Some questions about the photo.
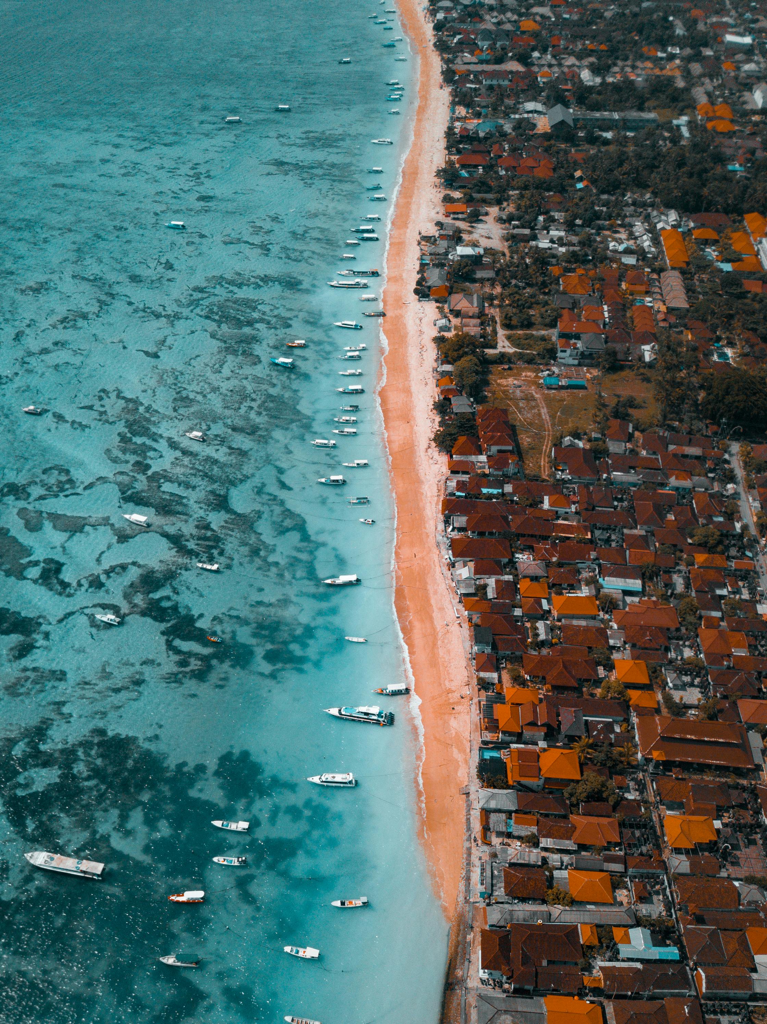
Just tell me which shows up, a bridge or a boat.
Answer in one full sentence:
There is a boat in the scene.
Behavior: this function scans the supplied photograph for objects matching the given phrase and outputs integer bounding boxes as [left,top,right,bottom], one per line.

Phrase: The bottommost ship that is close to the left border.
[20,844,108,878]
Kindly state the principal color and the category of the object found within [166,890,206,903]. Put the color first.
white boat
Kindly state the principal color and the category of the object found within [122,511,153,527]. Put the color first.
white boat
